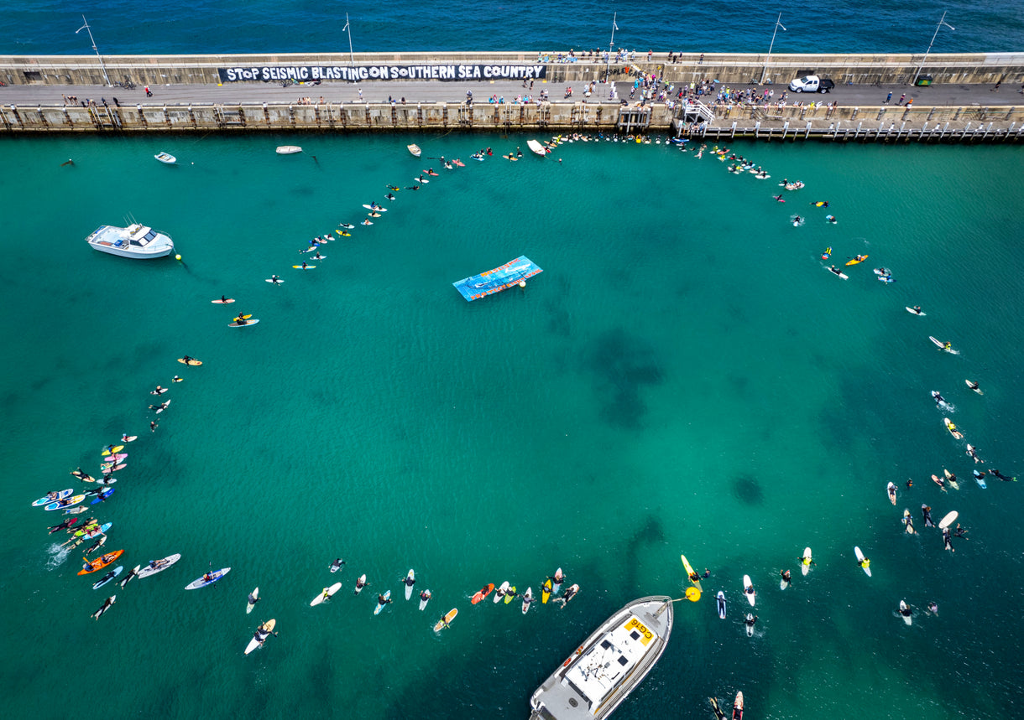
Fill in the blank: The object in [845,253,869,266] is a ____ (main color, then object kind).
yellow boat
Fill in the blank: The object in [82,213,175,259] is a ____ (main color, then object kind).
white boat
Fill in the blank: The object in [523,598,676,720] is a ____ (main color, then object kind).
white boat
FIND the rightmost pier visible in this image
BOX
[672,118,1024,145]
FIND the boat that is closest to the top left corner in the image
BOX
[153,152,178,164]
